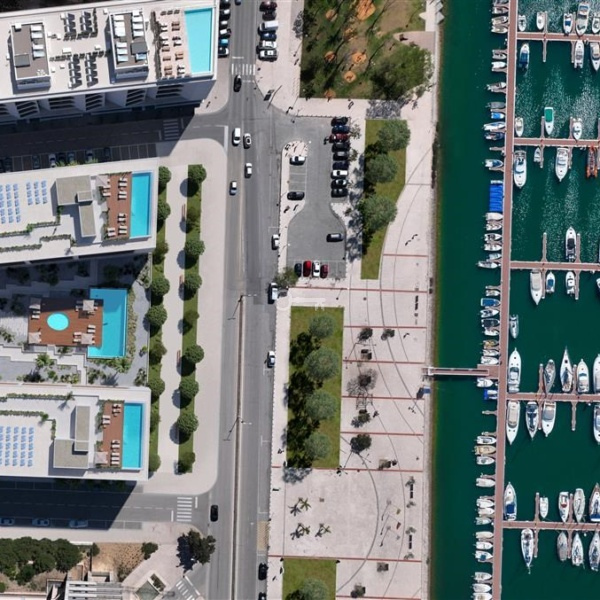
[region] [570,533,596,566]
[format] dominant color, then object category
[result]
white boat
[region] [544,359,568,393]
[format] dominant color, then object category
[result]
gray boat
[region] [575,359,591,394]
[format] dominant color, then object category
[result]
white boat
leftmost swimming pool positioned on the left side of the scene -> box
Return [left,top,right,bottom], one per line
[46,311,70,330]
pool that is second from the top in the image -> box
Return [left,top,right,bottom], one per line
[128,172,154,239]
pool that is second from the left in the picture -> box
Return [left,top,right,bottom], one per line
[87,288,128,359]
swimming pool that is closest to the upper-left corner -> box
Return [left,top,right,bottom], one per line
[182,6,214,76]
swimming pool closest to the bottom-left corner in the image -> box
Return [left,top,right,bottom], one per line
[120,401,145,469]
